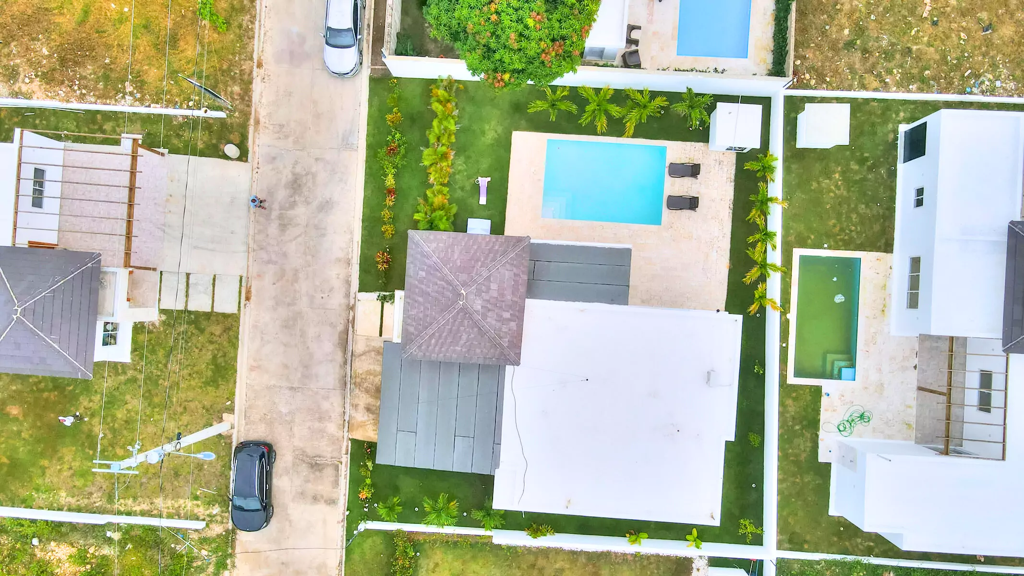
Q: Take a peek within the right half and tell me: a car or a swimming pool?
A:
swimming pool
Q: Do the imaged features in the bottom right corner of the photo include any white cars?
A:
No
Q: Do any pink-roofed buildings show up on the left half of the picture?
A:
No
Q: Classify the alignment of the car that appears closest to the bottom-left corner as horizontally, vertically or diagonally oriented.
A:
vertically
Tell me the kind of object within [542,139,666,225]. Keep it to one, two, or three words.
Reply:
swimming pool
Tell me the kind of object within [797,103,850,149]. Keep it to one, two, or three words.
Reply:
shed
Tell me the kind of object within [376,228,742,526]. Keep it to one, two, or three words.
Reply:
house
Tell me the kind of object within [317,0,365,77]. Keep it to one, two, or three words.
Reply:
car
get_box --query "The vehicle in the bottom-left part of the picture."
[225,439,274,532]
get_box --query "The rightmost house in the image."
[825,109,1024,560]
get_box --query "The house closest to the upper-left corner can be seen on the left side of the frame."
[0,129,159,381]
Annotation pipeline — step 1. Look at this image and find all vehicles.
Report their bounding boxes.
[225,439,274,532]
[317,0,365,77]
